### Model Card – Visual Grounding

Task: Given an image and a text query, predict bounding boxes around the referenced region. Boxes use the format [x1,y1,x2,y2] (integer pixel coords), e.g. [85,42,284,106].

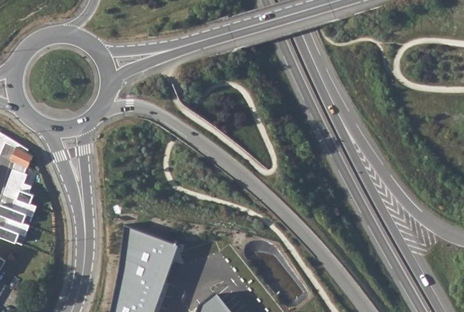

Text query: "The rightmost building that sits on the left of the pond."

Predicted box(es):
[194,292,231,312]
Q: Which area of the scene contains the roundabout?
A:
top left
